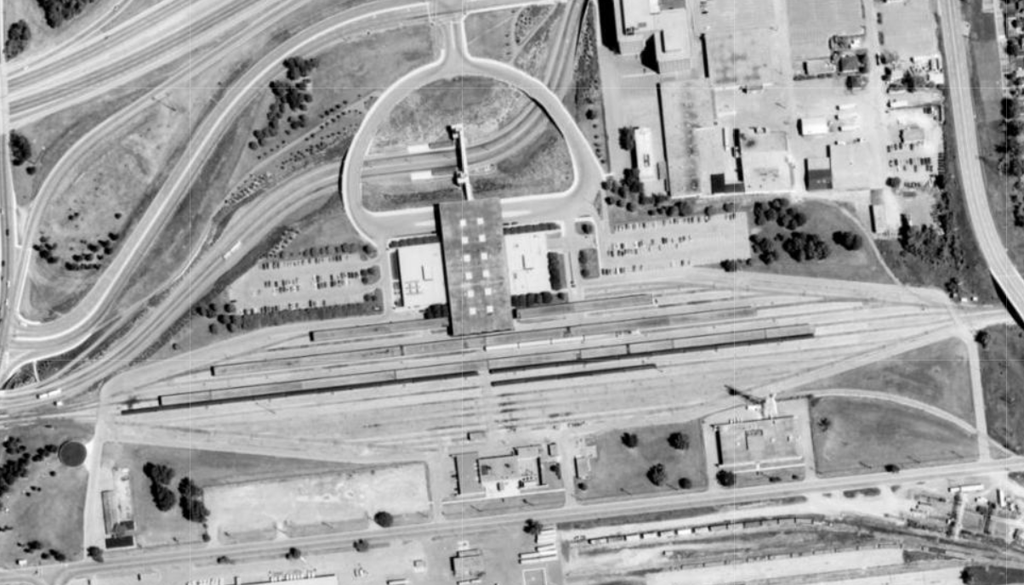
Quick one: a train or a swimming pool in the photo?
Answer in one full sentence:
The one in the frame is a train.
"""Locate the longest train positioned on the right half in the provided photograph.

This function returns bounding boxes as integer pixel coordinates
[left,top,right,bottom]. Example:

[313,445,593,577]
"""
[491,334,814,374]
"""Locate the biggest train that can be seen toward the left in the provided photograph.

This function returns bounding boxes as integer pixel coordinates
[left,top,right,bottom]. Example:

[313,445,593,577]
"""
[122,372,478,415]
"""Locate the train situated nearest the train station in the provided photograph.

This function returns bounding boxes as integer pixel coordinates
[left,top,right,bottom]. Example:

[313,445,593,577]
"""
[486,336,584,351]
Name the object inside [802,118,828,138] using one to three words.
shed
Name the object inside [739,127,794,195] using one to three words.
building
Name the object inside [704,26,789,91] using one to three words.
building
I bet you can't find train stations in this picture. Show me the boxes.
[398,198,553,337]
